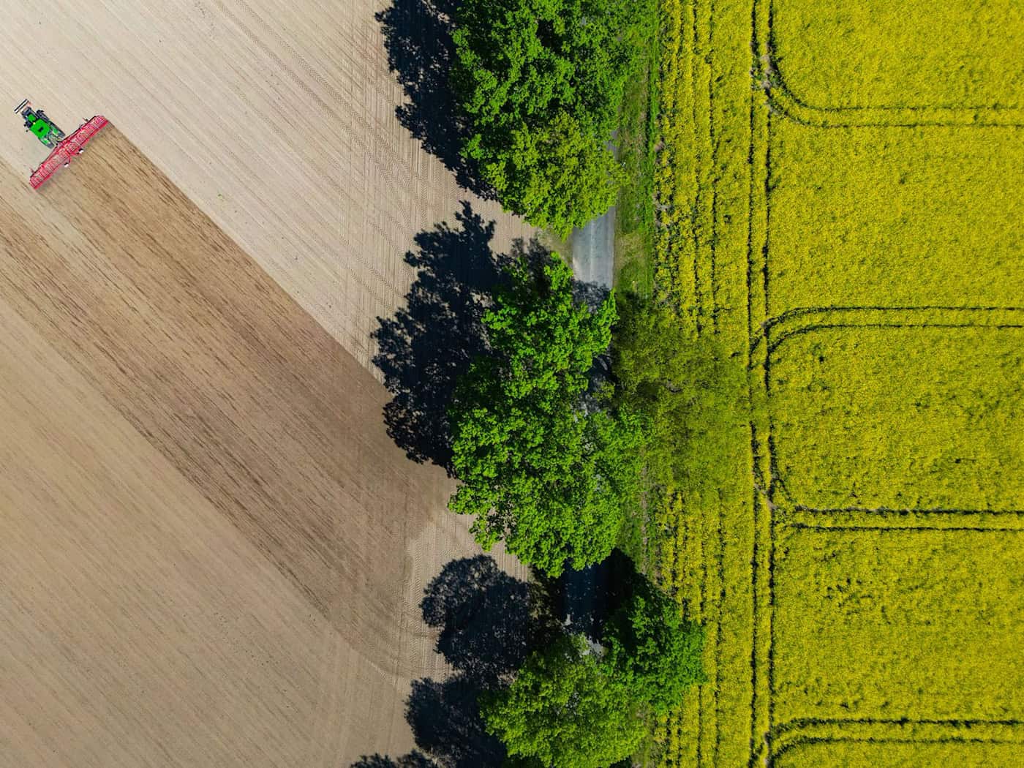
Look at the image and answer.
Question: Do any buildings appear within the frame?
No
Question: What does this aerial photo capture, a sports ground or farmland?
farmland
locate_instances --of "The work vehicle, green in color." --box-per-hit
[14,100,65,151]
